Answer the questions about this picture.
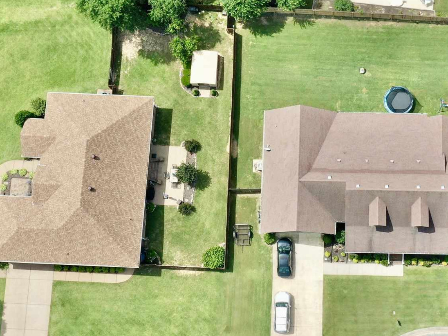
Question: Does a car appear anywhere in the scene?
Yes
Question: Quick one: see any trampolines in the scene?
Yes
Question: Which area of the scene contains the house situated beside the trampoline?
right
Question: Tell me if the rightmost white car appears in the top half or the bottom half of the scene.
bottom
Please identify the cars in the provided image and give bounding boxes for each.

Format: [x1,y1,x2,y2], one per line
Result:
[272,292,292,334]
[274,238,293,277]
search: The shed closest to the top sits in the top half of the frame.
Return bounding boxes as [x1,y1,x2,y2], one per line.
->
[190,50,219,90]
